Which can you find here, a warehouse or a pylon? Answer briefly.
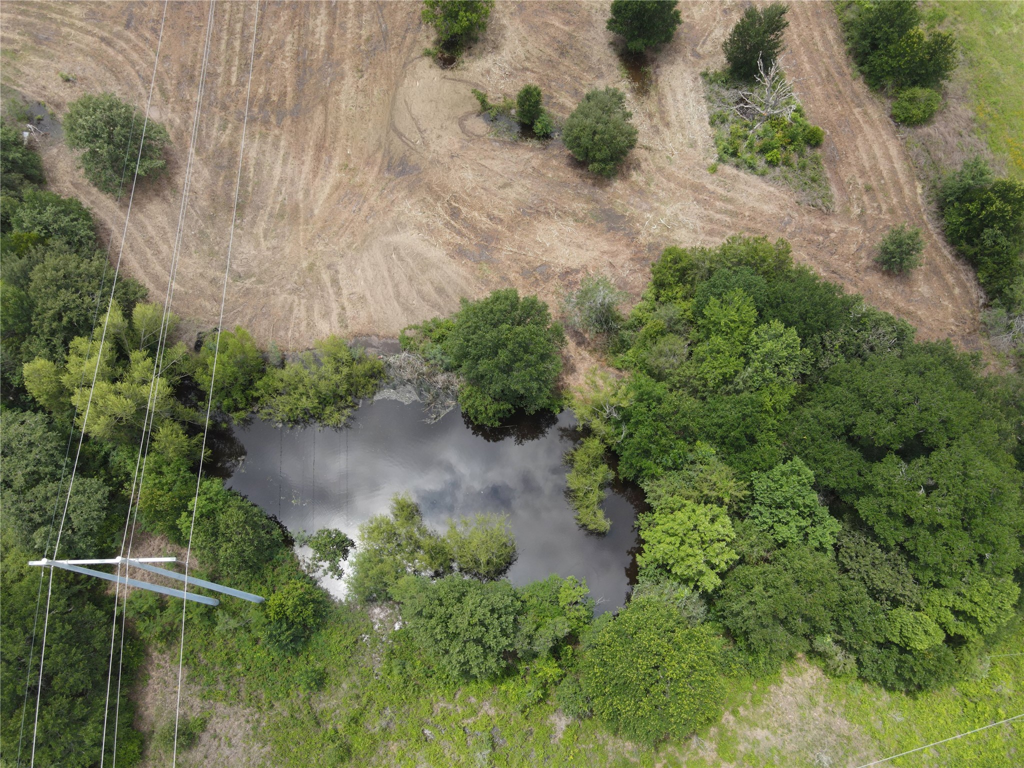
pylon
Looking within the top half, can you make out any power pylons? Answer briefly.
No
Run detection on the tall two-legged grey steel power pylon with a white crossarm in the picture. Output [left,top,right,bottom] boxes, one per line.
[27,556,265,607]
